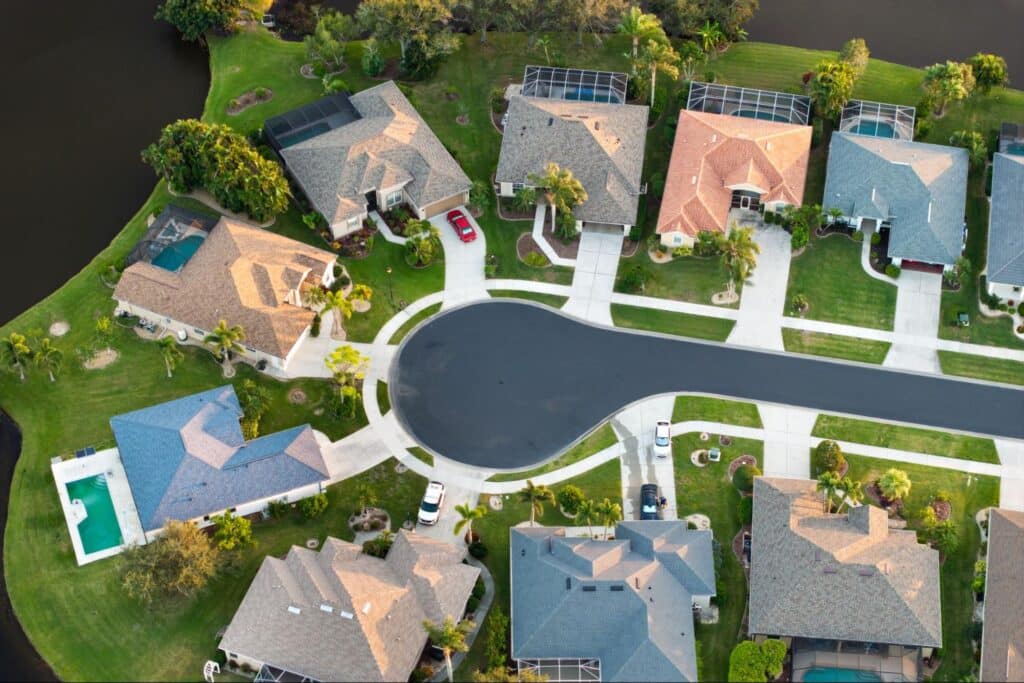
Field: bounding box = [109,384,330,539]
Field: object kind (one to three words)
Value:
house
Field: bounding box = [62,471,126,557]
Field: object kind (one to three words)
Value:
swimming pool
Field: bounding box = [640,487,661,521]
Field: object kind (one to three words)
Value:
car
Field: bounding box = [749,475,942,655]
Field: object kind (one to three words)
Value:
house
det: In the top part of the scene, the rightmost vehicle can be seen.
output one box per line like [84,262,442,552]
[449,211,475,244]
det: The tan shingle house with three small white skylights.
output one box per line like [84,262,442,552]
[218,528,481,683]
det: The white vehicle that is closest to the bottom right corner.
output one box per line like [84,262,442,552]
[653,424,672,461]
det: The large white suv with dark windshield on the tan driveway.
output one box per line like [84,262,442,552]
[420,482,444,526]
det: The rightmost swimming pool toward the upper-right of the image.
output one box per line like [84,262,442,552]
[846,117,899,139]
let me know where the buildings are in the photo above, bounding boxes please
[279,80,472,232]
[112,216,337,366]
[822,131,969,274]
[218,528,481,683]
[510,520,717,683]
[977,507,1024,683]
[749,475,942,655]
[655,109,813,247]
[109,384,330,539]
[987,153,1024,299]
[495,95,650,235]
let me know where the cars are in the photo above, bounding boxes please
[653,424,672,461]
[449,211,475,244]
[640,487,661,521]
[420,482,444,526]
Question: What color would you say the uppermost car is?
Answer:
red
